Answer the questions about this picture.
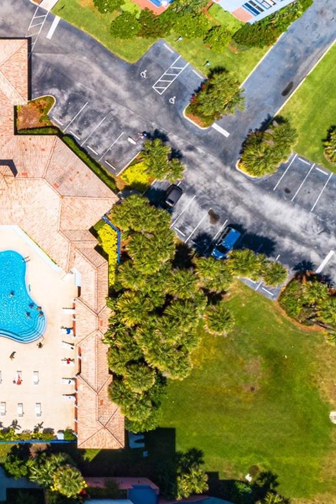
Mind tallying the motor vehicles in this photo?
two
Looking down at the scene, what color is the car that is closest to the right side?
blue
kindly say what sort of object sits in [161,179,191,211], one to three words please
car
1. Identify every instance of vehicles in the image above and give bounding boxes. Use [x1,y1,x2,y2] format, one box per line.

[161,179,191,211]
[212,227,245,261]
